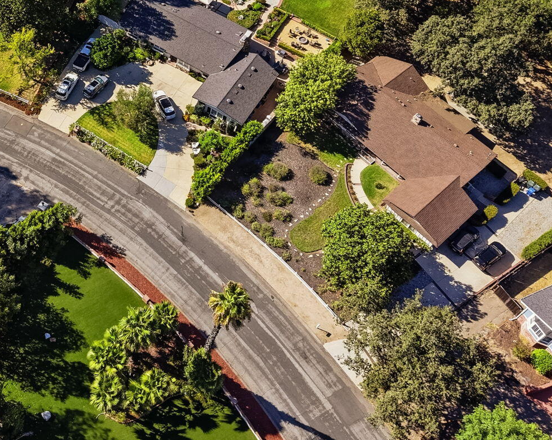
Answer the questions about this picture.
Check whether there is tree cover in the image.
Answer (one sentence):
Yes, some tree cover is visible.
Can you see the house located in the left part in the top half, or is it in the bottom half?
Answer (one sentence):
The top half of the photo is where the house located in the left part is.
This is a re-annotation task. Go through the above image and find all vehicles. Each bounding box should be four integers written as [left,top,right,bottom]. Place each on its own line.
[79,68,112,103]
[470,236,512,273]
[53,68,79,103]
[70,34,97,72]
[445,224,487,262]
[151,86,180,122]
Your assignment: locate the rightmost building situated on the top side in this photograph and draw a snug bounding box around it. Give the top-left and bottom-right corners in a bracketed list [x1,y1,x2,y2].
[337,58,498,253]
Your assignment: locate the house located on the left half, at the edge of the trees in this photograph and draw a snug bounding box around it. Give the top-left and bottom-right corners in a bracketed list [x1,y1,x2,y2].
[120,0,279,134]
